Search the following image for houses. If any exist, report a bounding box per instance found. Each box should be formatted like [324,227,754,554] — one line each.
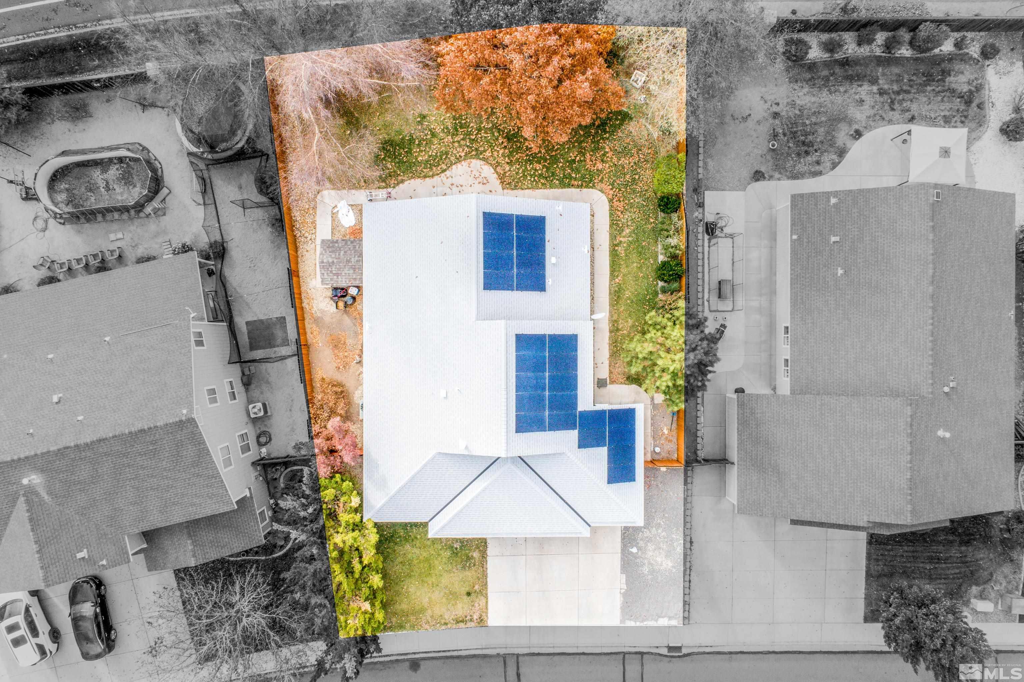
[0,251,274,592]
[362,194,645,539]
[726,182,1016,535]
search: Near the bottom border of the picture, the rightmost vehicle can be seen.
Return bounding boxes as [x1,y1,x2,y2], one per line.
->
[66,577,119,657]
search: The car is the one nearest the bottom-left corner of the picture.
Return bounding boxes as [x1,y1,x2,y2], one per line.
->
[0,589,61,664]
